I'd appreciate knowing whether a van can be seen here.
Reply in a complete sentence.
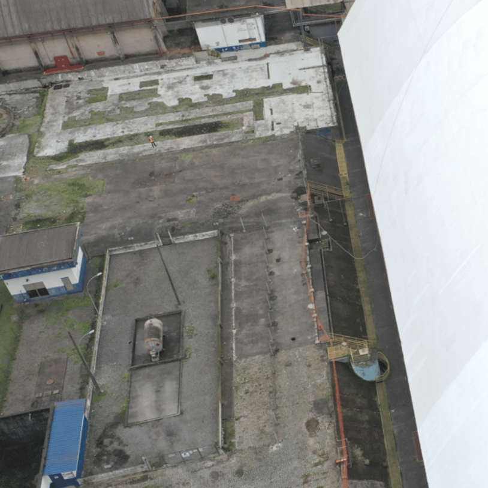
No, there's no van here.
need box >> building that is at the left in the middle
[0,223,85,300]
